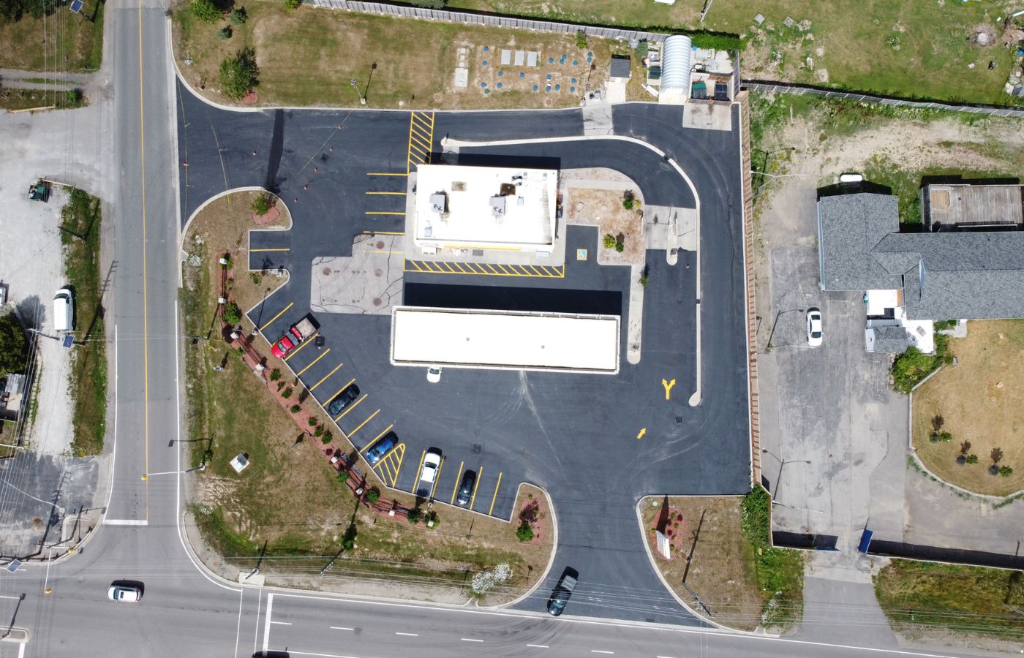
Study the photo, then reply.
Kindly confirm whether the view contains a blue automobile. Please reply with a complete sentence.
Yes, a blue automobile is visible in the scene.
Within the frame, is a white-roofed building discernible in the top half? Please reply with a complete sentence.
Yes, a white-roofed building shows up in the top half.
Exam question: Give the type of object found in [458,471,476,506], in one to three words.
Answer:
car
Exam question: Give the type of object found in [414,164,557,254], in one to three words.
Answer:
building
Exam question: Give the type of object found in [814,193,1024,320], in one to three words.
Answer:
house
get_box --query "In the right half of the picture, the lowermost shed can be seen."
[861,327,912,352]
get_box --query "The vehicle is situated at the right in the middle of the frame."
[806,311,823,346]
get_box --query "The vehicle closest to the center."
[427,366,443,383]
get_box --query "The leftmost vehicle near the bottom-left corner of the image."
[107,585,145,603]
